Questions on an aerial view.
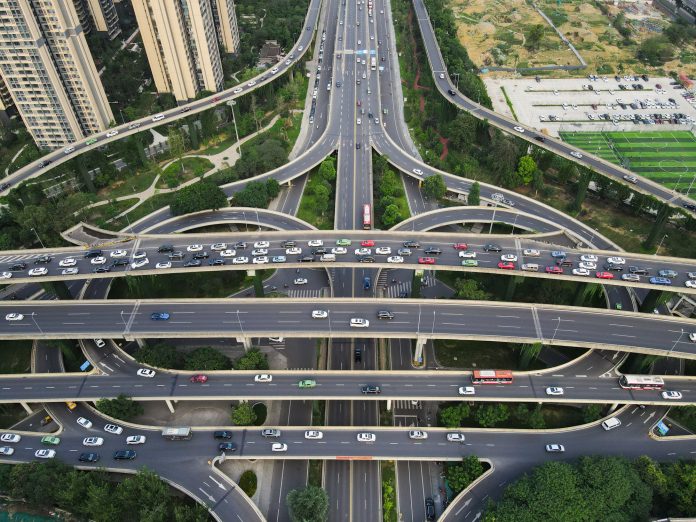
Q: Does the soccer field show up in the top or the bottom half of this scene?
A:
top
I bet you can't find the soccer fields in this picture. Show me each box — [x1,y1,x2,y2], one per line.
[558,132,696,201]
